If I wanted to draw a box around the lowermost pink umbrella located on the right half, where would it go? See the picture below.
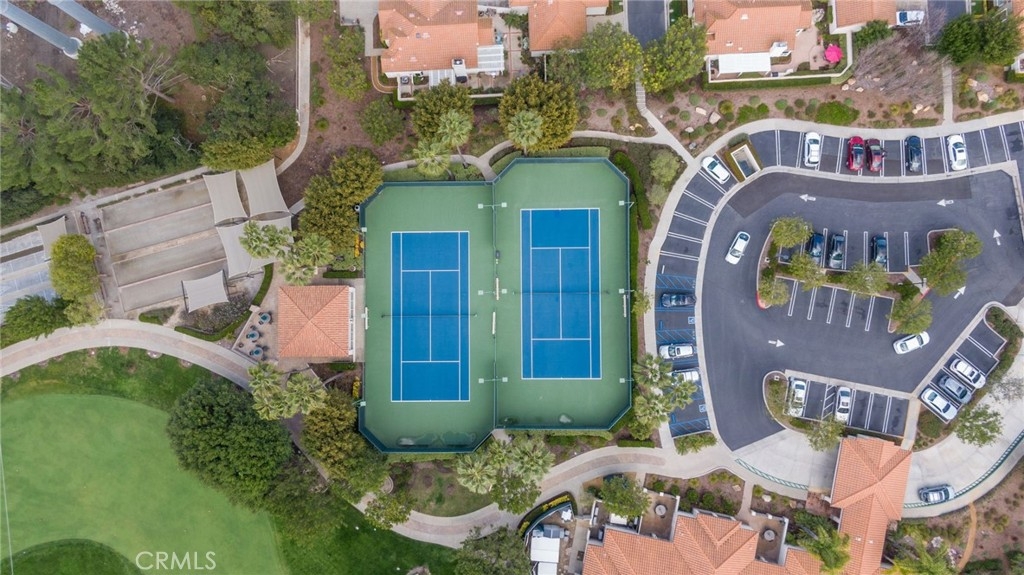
[824,45,841,62]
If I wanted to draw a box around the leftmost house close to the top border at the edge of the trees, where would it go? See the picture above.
[378,0,505,89]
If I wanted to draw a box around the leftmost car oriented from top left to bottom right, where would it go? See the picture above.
[699,156,731,185]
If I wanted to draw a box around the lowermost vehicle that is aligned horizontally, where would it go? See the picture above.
[916,485,954,502]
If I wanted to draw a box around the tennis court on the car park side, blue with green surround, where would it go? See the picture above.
[494,163,627,427]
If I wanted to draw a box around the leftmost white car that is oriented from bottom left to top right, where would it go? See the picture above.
[723,230,751,265]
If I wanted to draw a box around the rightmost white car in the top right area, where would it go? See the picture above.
[945,135,965,171]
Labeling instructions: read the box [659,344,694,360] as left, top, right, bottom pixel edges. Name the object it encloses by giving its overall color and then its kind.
white car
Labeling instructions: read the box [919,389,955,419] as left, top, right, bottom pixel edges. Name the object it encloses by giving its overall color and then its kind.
white car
